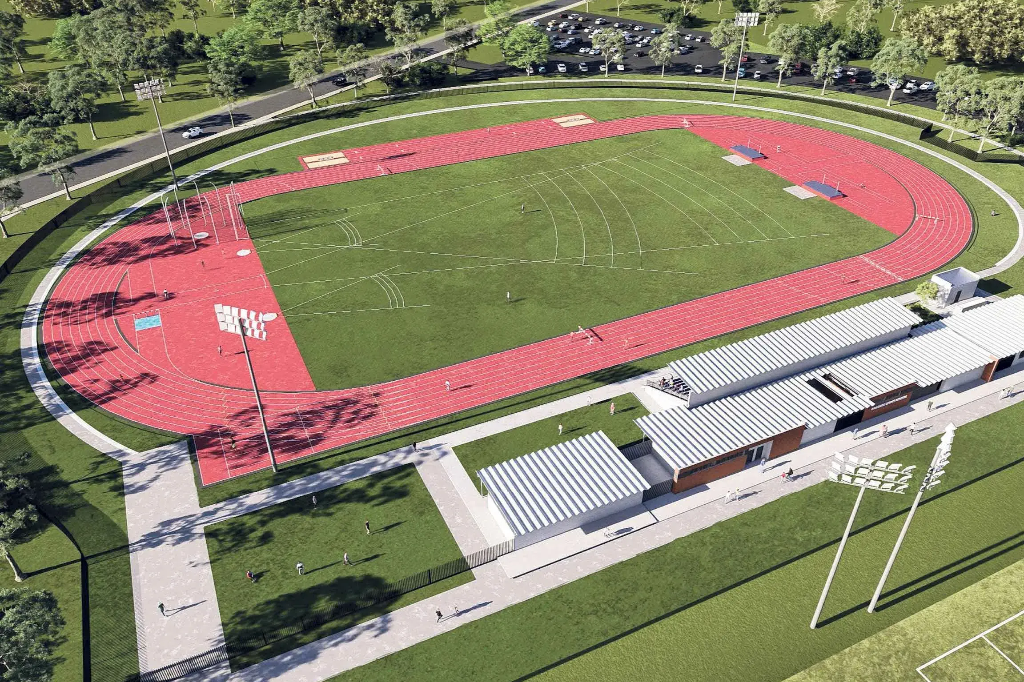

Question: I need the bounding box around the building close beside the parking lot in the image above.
[631,290,1024,492]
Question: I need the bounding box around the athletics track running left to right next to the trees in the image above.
[44,113,972,442]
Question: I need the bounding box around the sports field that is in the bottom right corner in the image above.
[781,559,1024,682]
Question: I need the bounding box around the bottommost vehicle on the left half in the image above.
[182,125,203,137]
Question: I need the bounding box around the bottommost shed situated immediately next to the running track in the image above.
[475,430,650,549]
